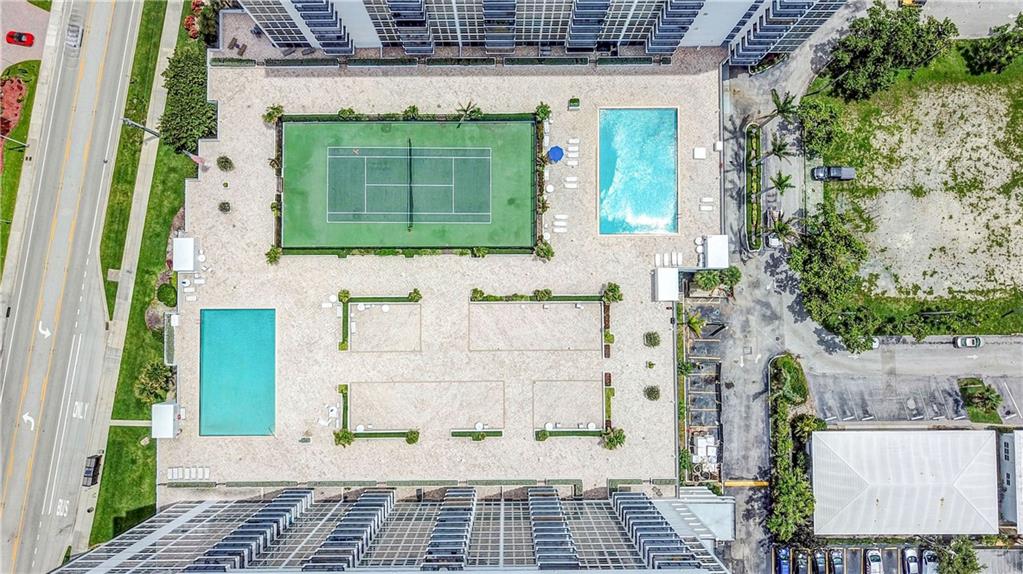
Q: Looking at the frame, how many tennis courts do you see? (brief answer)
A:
one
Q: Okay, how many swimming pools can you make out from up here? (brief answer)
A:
2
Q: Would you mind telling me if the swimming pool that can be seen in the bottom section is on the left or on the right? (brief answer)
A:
left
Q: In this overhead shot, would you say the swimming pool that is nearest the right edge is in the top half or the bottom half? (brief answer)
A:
top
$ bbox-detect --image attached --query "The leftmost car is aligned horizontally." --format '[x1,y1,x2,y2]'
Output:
[7,32,37,48]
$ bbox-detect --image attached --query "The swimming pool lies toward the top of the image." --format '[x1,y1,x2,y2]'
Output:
[596,106,681,236]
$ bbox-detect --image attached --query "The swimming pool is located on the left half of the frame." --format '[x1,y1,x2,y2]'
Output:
[198,306,278,438]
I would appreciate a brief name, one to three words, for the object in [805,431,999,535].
building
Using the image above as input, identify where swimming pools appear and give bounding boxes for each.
[596,106,681,236]
[198,306,278,438]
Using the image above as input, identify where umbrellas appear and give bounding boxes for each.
[548,143,564,159]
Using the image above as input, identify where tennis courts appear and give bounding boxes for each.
[276,116,536,249]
